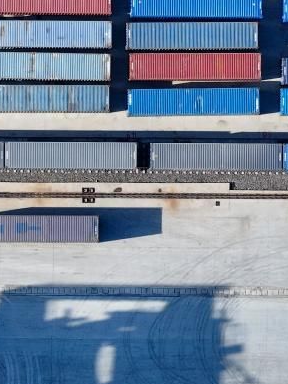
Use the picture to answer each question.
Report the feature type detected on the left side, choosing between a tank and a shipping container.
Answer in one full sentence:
You can see a shipping container on the left side.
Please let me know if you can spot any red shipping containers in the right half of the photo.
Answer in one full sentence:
Yes, the scene does show a red shipping container in the right half of the photo.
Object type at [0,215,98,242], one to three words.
shipping container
